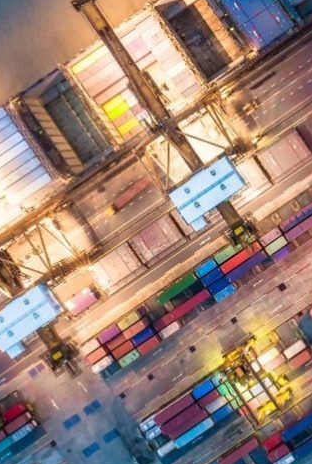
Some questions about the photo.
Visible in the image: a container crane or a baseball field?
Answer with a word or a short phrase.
container crane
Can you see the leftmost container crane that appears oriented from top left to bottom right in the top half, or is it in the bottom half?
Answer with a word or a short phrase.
top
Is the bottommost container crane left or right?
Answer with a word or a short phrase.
right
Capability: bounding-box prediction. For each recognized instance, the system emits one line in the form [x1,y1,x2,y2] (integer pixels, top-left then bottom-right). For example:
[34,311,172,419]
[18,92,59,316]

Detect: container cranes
[0,202,99,371]
[225,334,298,423]
[66,0,257,249]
